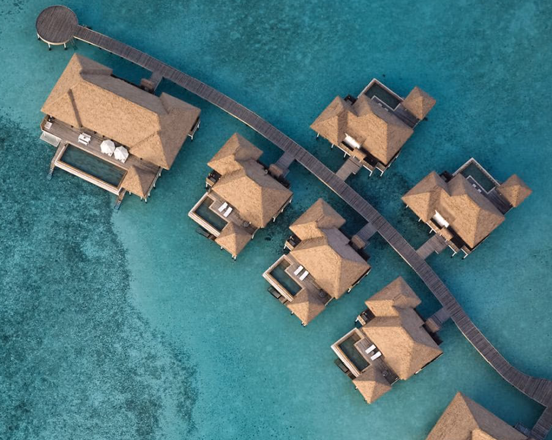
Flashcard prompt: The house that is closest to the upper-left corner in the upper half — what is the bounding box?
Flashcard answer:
[39,52,201,210]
